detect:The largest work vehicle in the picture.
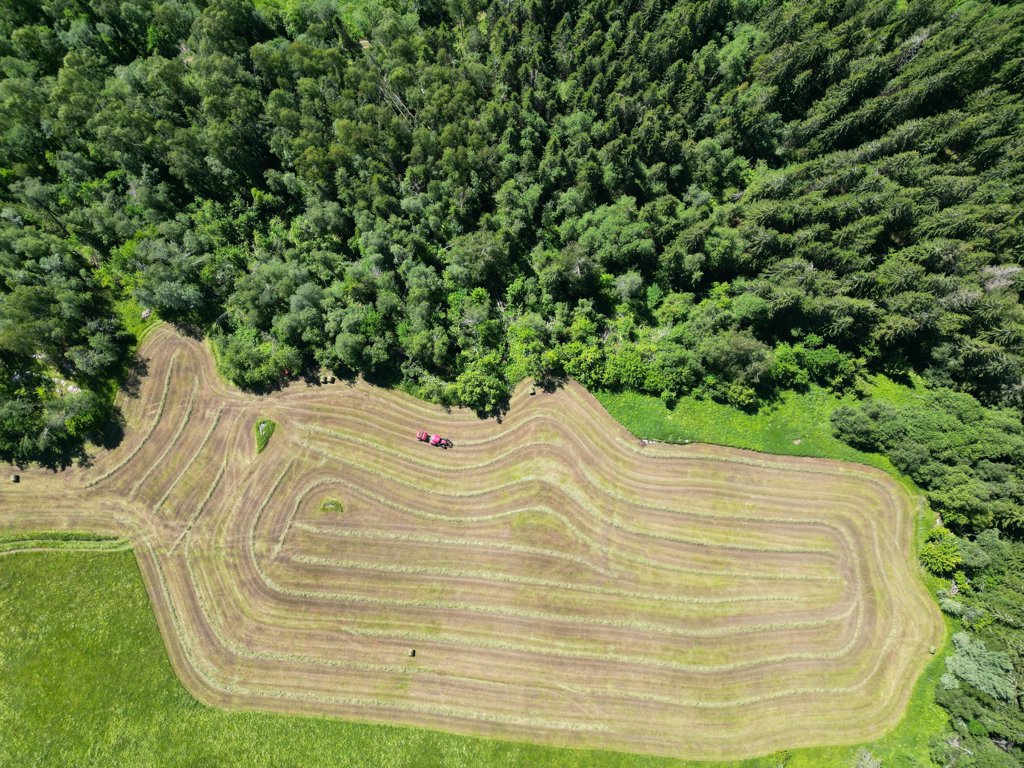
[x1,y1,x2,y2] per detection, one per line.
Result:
[430,433,453,449]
